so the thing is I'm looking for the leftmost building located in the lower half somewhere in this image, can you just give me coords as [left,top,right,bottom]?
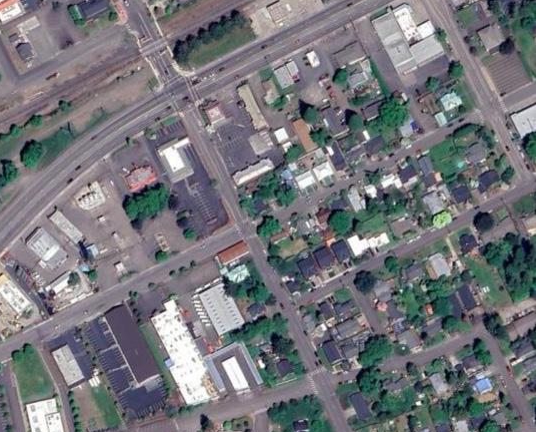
[0,273,31,315]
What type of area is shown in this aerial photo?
residential area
